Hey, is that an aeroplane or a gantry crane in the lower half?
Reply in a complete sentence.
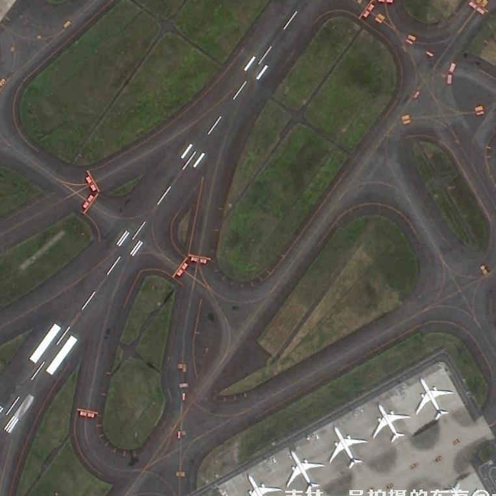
It is an aeroplane that can be seen in the lower half.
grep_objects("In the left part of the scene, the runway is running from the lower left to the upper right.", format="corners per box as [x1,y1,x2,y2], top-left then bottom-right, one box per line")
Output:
[0,0,311,433]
